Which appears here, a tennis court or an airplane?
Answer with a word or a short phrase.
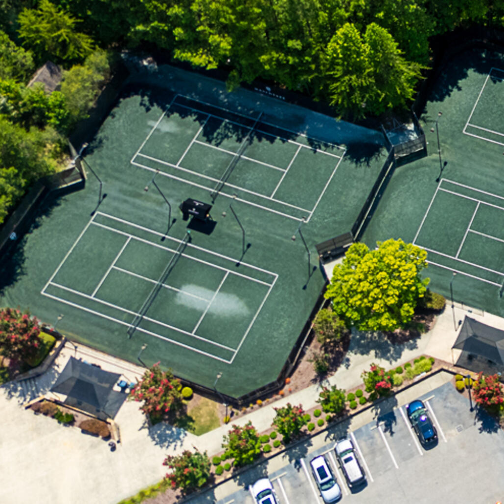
tennis court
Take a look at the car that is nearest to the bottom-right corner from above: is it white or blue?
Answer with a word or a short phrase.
blue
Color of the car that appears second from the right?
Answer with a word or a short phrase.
white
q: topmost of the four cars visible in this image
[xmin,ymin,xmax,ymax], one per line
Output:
[410,401,438,448]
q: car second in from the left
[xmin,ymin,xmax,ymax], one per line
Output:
[311,457,342,504]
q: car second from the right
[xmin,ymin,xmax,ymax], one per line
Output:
[338,438,368,487]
